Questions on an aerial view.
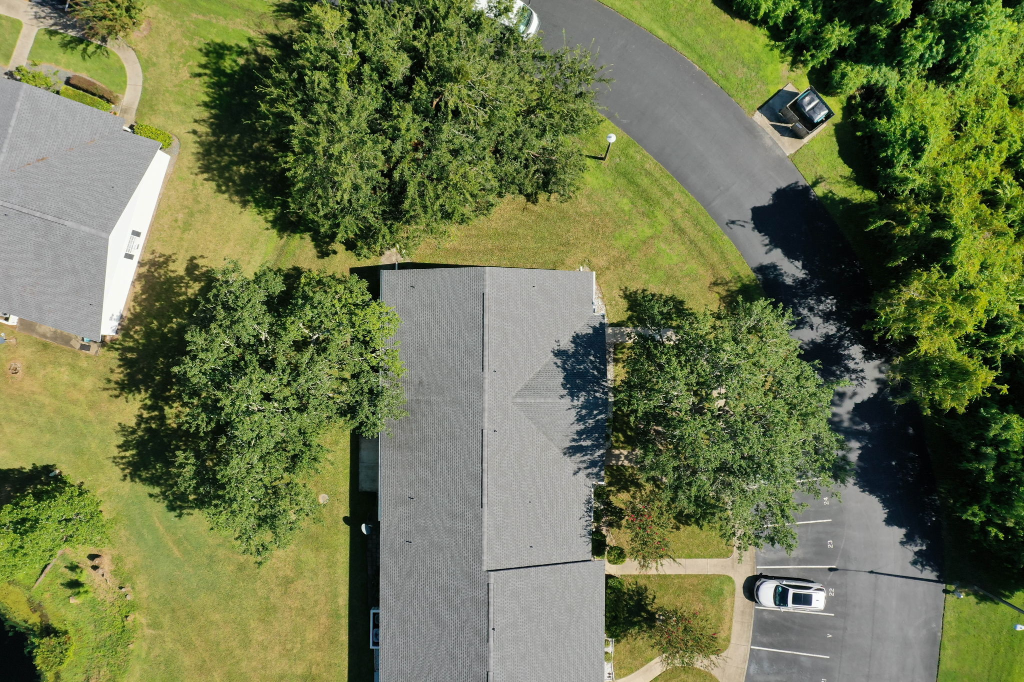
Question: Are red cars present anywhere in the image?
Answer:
No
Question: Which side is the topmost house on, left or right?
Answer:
left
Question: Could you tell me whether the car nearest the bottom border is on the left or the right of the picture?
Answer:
right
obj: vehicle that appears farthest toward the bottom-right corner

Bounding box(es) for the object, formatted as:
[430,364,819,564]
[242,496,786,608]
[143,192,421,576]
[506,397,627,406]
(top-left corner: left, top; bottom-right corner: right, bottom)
[753,574,827,611]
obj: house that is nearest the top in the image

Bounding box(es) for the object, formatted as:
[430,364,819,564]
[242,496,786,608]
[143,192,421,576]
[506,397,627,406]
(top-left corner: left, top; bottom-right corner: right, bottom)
[0,79,170,338]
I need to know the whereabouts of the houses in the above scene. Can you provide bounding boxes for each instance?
[379,267,607,682]
[0,79,170,338]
